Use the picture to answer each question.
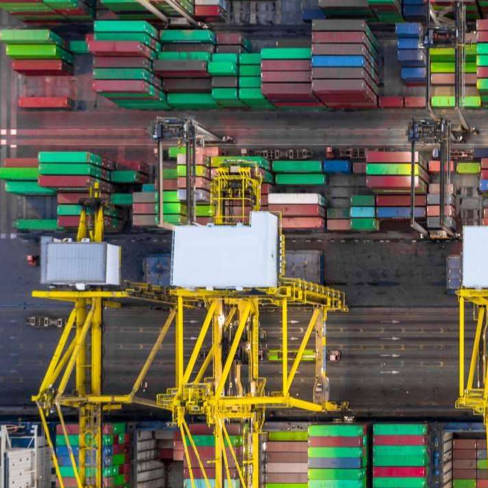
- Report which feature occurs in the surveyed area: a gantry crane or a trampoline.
gantry crane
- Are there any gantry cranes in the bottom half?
Yes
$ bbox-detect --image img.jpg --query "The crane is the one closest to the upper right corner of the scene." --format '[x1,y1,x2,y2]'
[418,2,479,133]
